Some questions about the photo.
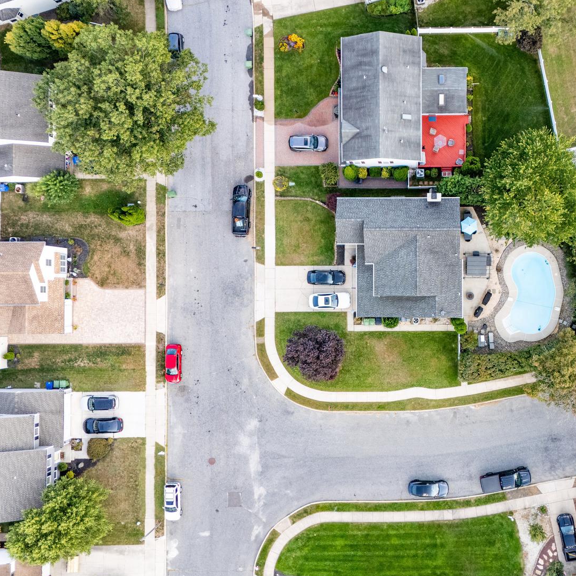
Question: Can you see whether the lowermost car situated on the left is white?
Yes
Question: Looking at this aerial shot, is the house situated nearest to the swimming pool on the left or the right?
right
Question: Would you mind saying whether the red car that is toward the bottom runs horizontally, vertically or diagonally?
vertically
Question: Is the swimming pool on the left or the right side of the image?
right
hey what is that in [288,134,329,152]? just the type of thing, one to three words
car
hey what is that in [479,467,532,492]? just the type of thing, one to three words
truck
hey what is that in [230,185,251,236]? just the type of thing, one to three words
truck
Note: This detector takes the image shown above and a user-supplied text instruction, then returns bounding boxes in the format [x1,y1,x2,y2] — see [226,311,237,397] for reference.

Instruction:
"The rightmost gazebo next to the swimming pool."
[462,252,492,281]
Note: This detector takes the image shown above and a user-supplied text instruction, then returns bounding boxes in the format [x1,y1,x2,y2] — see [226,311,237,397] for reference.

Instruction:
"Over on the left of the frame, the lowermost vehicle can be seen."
[162,481,183,520]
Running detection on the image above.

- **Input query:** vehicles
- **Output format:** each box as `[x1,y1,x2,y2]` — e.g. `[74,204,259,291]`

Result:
[84,394,121,413]
[84,416,125,436]
[557,512,576,563]
[163,344,183,383]
[166,0,184,13]
[162,481,183,520]
[166,31,186,69]
[306,268,346,287]
[479,467,532,492]
[288,134,329,152]
[408,479,448,499]
[308,291,350,310]
[230,185,251,236]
